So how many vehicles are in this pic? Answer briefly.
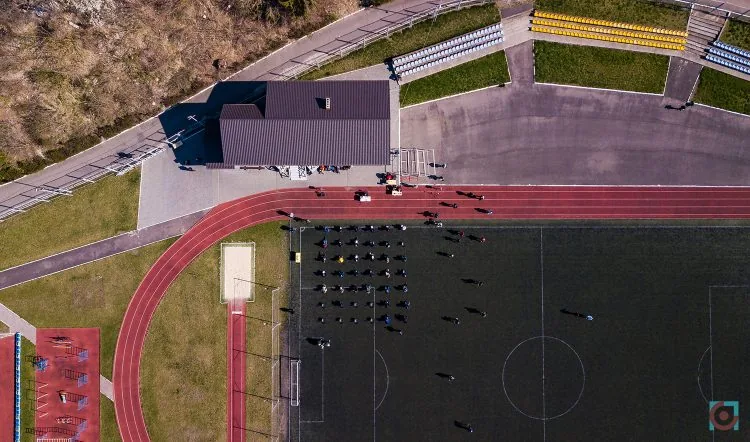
0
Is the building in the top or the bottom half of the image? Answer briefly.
top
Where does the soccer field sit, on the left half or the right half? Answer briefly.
right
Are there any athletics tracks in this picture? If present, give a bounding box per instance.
[112,186,750,442]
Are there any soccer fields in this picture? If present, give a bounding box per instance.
[289,216,750,442]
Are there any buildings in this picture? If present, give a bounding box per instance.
[206,81,390,172]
